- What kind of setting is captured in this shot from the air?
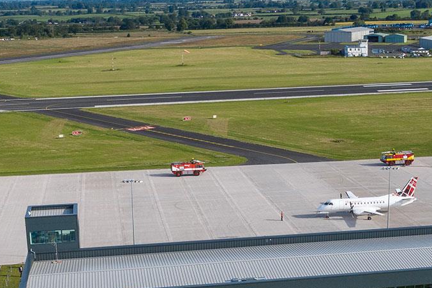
airport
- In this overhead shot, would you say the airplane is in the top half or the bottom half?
bottom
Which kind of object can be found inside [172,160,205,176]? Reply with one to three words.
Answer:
vehicle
